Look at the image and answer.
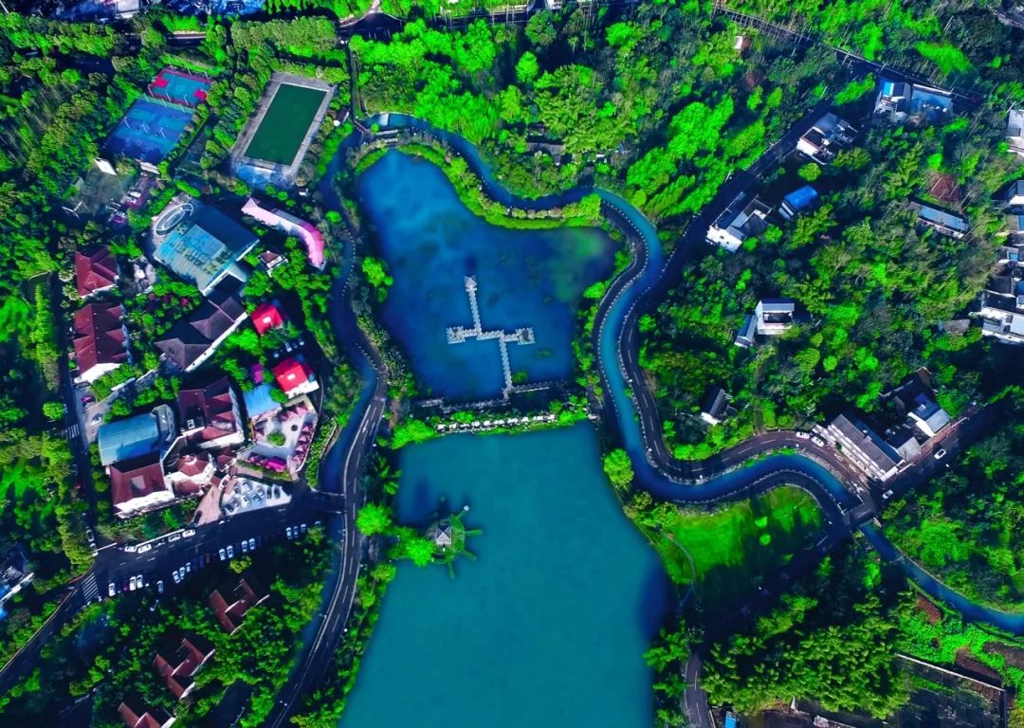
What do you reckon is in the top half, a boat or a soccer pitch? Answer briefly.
soccer pitch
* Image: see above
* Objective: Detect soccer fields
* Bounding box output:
[232,72,335,177]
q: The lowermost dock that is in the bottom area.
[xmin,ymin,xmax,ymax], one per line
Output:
[441,499,481,577]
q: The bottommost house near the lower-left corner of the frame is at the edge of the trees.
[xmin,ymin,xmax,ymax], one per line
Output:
[118,693,179,728]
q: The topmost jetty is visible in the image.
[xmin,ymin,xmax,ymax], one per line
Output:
[447,290,535,390]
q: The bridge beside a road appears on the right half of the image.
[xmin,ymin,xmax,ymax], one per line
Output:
[829,494,884,538]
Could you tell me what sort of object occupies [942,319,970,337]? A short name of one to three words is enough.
house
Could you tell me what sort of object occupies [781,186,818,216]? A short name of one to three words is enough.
house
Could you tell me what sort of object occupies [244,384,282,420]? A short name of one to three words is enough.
shed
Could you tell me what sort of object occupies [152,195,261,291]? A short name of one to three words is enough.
building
